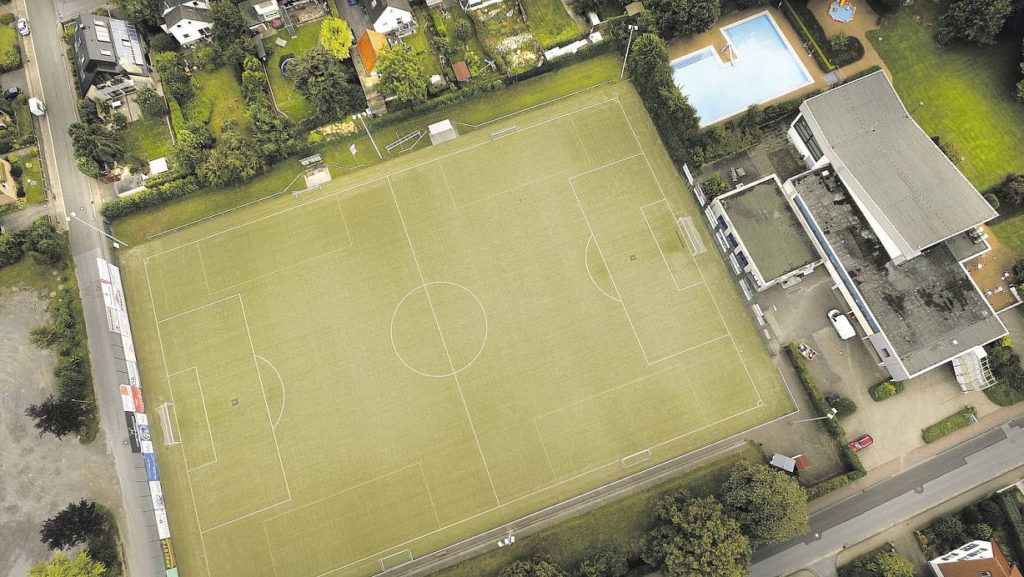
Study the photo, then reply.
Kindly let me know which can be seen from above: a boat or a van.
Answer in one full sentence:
There is a van in the scene.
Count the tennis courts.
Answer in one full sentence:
No tennis courts are visible.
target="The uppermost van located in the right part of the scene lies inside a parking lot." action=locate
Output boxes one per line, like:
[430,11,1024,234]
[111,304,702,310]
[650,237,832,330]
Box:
[827,311,859,342]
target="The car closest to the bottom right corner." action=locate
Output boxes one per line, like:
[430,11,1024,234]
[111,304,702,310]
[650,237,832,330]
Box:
[850,434,876,451]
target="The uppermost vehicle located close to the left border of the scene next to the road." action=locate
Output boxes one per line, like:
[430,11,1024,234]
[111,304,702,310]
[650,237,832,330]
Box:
[16,17,30,35]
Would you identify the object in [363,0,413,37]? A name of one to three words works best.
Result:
house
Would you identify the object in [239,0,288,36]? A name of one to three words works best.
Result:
house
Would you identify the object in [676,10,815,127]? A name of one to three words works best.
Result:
swimming pool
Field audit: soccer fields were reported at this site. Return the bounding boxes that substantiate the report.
[118,77,796,577]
